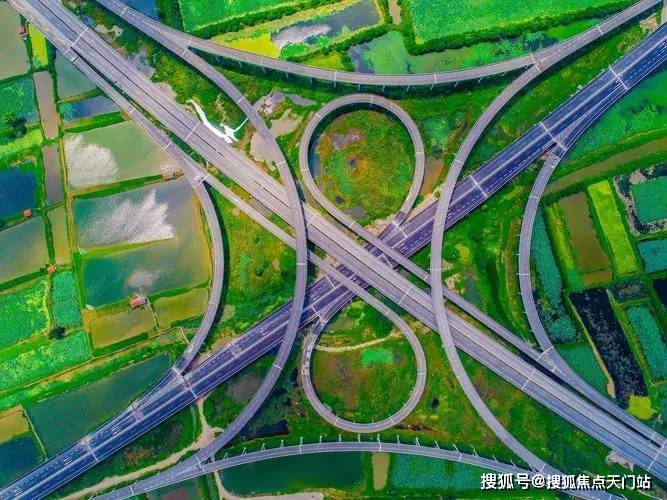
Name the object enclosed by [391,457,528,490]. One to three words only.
pond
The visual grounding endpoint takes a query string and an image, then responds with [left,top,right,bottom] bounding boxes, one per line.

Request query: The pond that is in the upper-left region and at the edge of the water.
[0,75,40,139]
